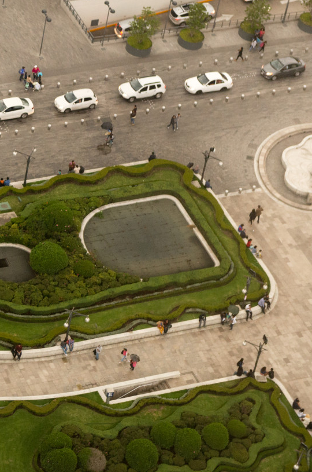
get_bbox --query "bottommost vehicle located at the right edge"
[256,56,311,81]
